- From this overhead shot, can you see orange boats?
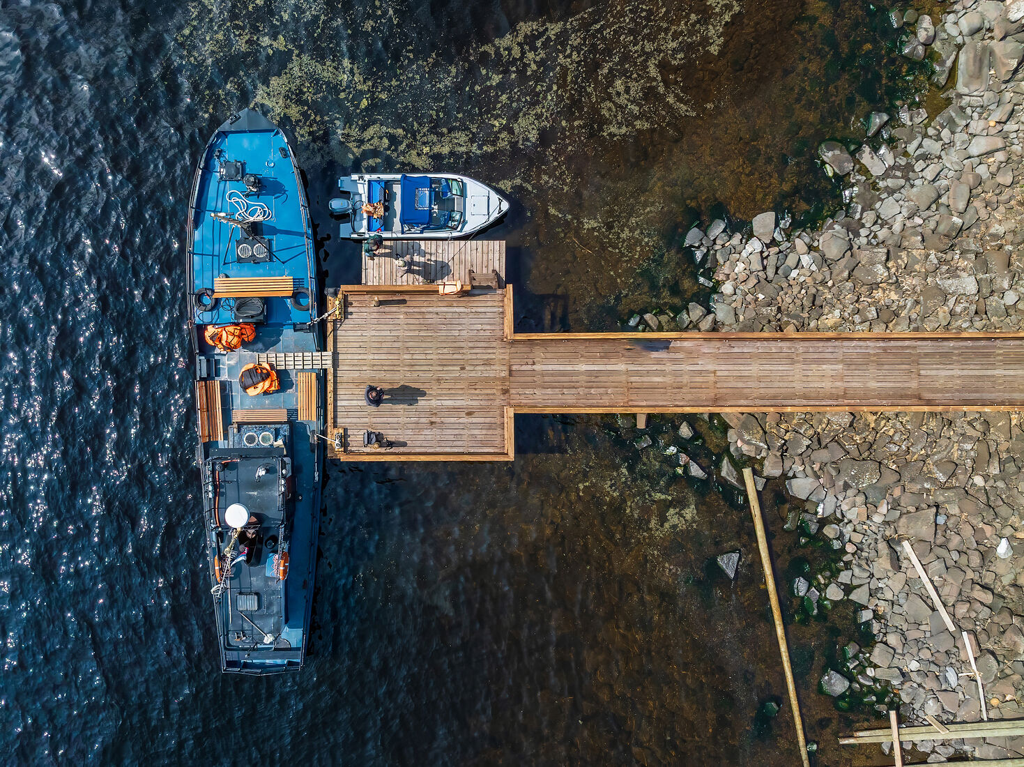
No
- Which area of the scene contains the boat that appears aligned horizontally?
top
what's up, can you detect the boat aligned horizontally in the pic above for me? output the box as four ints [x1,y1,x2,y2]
[330,173,510,241]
